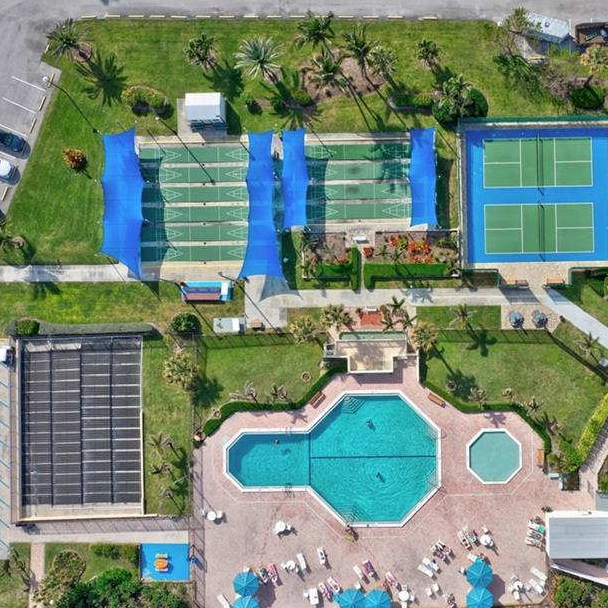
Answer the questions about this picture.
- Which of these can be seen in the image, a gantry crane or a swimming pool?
swimming pool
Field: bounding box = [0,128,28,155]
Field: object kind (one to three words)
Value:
car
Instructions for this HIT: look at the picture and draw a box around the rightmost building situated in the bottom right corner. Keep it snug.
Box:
[546,511,608,560]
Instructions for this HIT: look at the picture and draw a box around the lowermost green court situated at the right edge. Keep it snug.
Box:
[485,200,595,256]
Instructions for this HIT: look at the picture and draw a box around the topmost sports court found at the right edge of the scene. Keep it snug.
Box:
[484,133,593,190]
